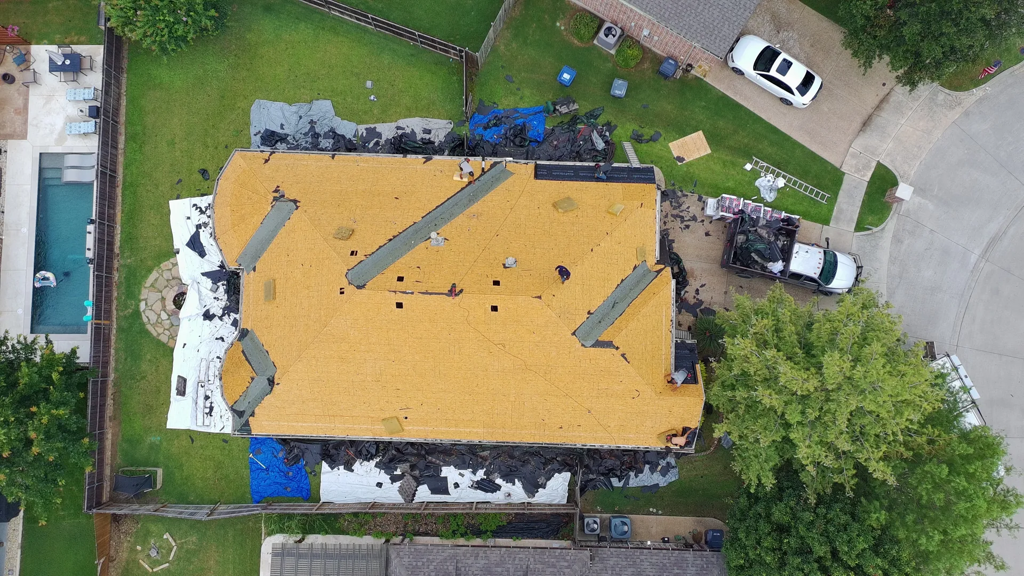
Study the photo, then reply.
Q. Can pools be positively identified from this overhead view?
Yes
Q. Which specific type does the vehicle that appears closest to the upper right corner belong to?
car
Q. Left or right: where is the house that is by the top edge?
right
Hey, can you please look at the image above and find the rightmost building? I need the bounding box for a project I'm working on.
[585,0,762,71]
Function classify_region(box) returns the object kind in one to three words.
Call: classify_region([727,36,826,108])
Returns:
car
